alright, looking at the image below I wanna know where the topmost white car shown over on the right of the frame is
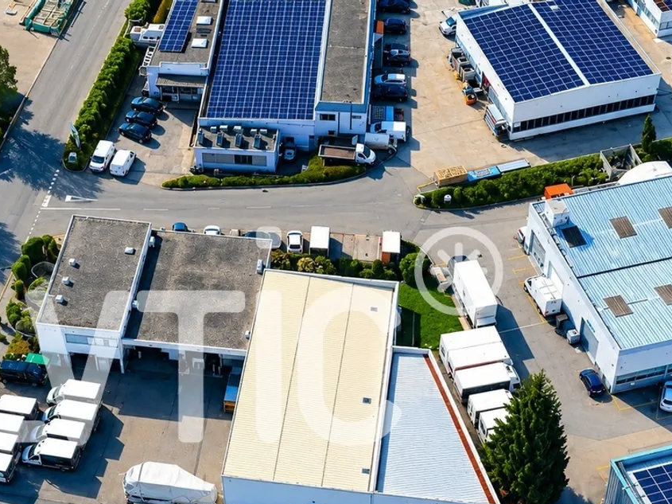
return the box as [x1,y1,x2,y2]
[435,11,456,34]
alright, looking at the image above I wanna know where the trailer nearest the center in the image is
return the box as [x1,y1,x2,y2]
[310,220,330,258]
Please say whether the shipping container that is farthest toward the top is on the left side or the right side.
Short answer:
left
